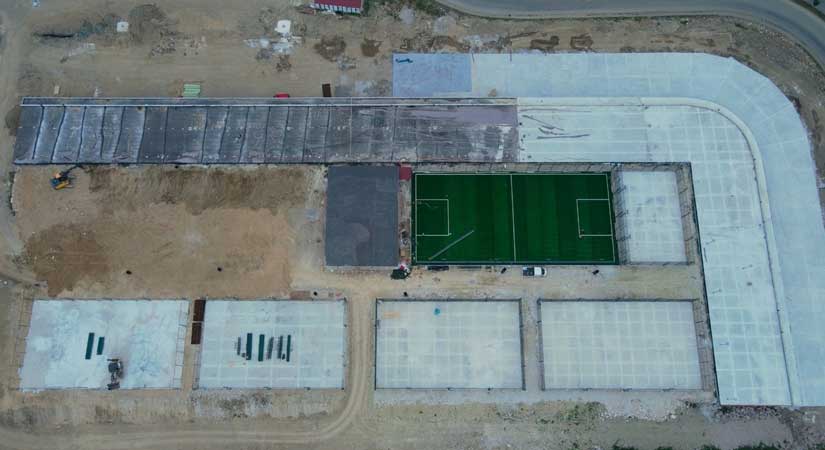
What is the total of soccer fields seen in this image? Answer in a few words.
1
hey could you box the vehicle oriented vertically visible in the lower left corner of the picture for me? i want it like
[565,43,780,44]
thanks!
[103,357,122,390]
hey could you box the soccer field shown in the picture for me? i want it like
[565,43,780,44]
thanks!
[410,171,618,265]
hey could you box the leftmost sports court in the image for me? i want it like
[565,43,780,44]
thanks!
[17,300,188,388]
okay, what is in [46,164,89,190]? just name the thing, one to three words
work vehicle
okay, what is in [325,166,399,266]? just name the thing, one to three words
sports court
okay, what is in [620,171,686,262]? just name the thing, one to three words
sports court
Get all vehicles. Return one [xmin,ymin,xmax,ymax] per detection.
[103,357,122,390]
[46,164,89,190]
[524,266,547,276]
[272,90,289,97]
